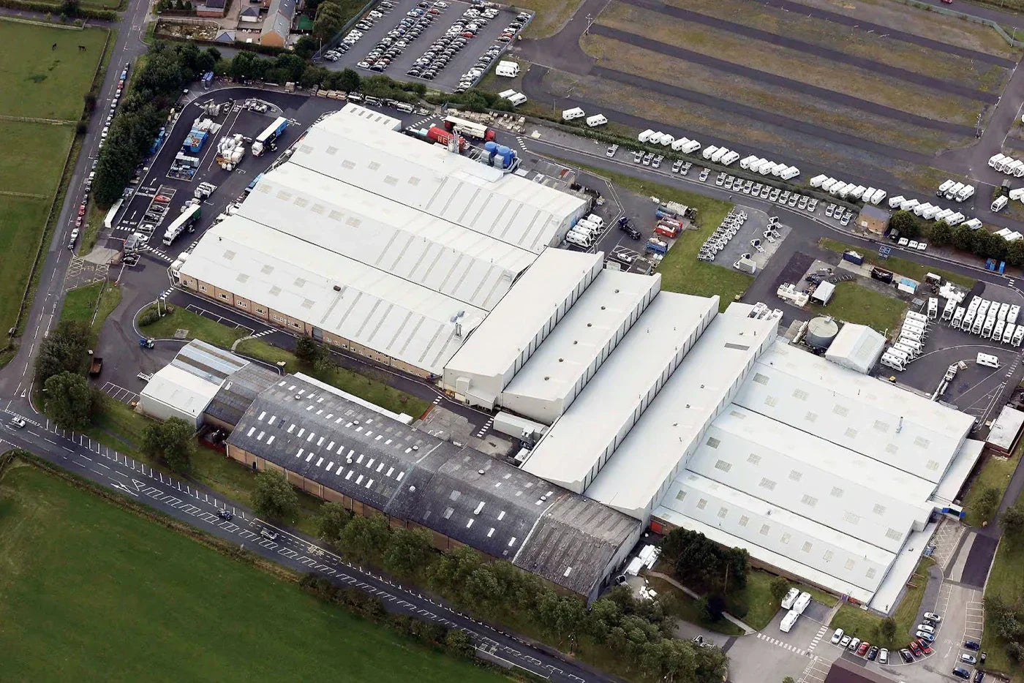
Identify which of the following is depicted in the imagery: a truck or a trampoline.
truck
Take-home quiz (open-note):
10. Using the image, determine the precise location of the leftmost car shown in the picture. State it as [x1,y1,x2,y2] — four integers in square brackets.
[10,415,27,428]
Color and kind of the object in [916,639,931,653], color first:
red car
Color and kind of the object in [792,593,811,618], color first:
white camper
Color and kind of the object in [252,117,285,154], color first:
white truck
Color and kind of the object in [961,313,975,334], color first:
white camper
